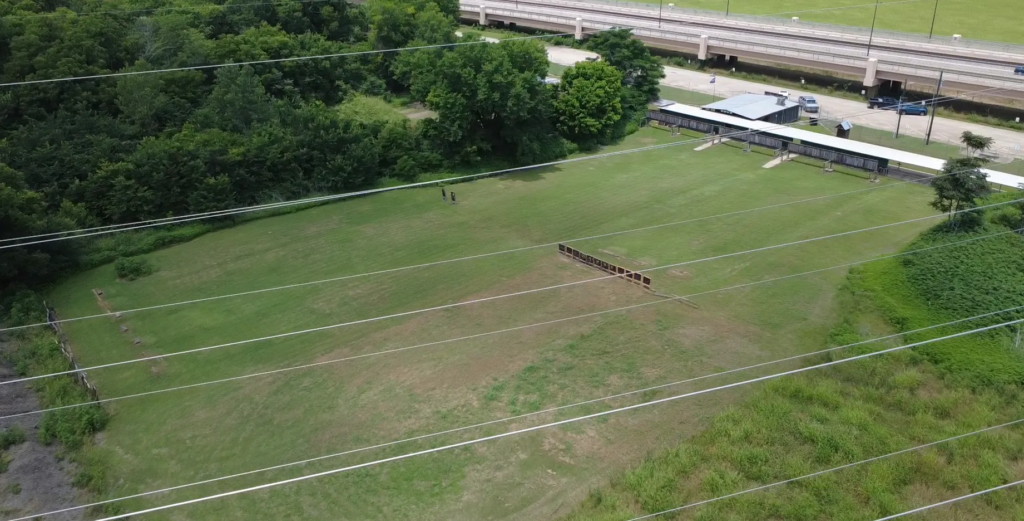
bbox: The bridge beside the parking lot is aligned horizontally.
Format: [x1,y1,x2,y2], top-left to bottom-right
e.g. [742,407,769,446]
[406,0,1024,102]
